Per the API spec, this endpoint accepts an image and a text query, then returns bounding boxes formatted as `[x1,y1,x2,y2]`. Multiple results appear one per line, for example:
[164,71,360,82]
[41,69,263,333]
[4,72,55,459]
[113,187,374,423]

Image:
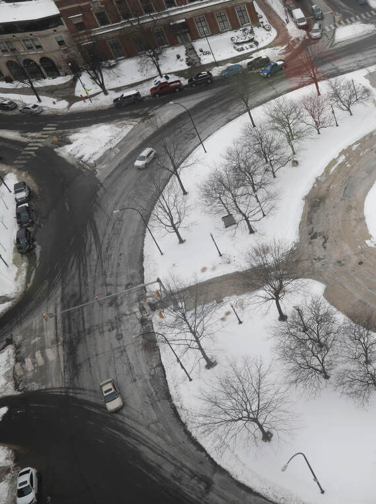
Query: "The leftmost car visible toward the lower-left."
[10,464,36,504]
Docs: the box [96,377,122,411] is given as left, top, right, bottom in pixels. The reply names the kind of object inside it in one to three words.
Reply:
car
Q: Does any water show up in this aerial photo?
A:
No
